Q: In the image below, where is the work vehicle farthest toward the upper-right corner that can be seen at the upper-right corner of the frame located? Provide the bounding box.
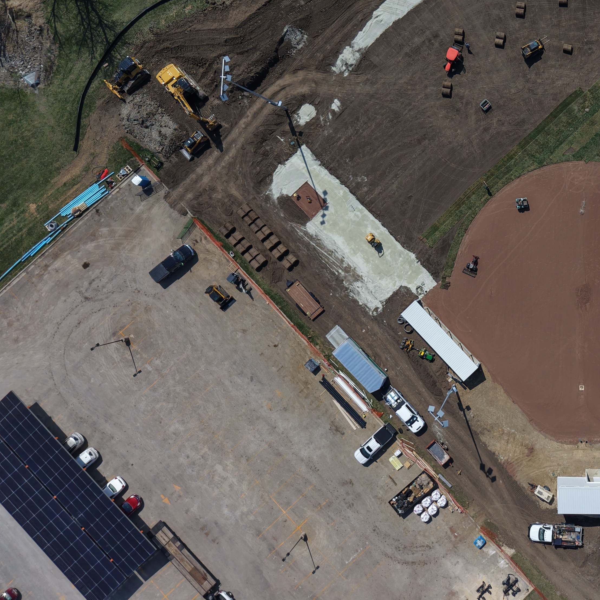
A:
[519,37,551,60]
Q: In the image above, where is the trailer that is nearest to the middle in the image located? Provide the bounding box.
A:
[285,278,324,319]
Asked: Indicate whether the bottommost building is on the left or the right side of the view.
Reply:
right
